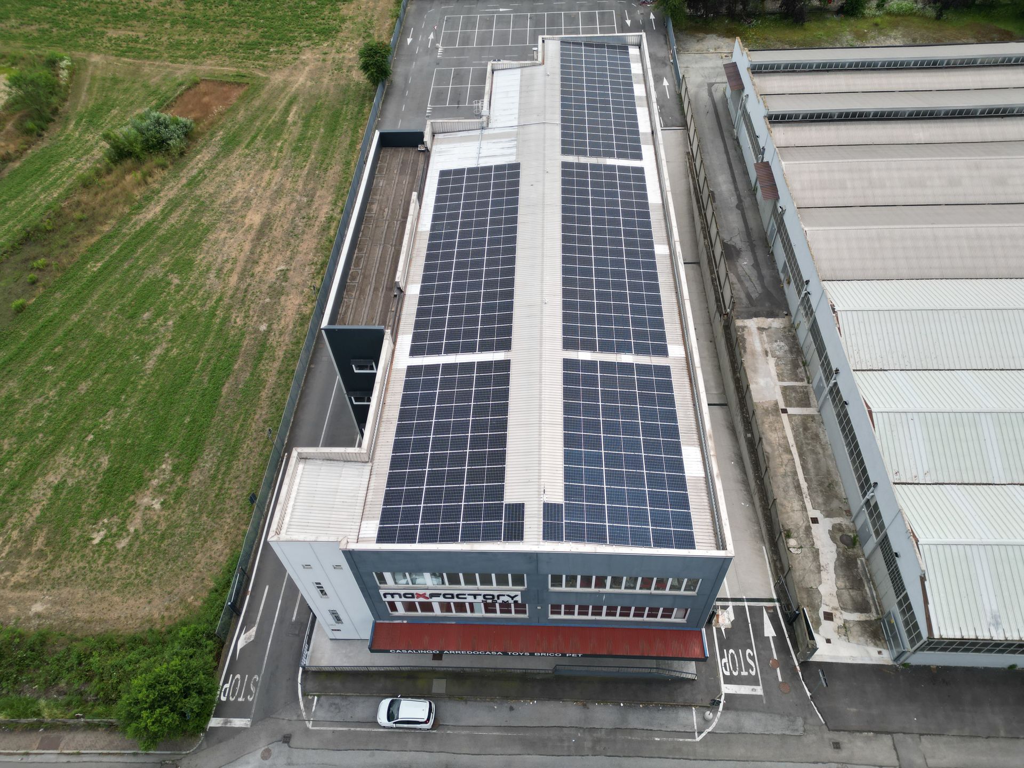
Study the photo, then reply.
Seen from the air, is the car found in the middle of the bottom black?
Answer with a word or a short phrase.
No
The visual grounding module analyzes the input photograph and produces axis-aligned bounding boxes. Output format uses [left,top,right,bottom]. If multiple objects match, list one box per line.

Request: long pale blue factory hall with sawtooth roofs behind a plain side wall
[723,36,1024,670]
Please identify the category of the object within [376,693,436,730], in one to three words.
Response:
car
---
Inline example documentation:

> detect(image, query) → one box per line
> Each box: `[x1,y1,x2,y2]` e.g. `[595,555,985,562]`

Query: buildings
[723,36,1024,670]
[269,32,735,664]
